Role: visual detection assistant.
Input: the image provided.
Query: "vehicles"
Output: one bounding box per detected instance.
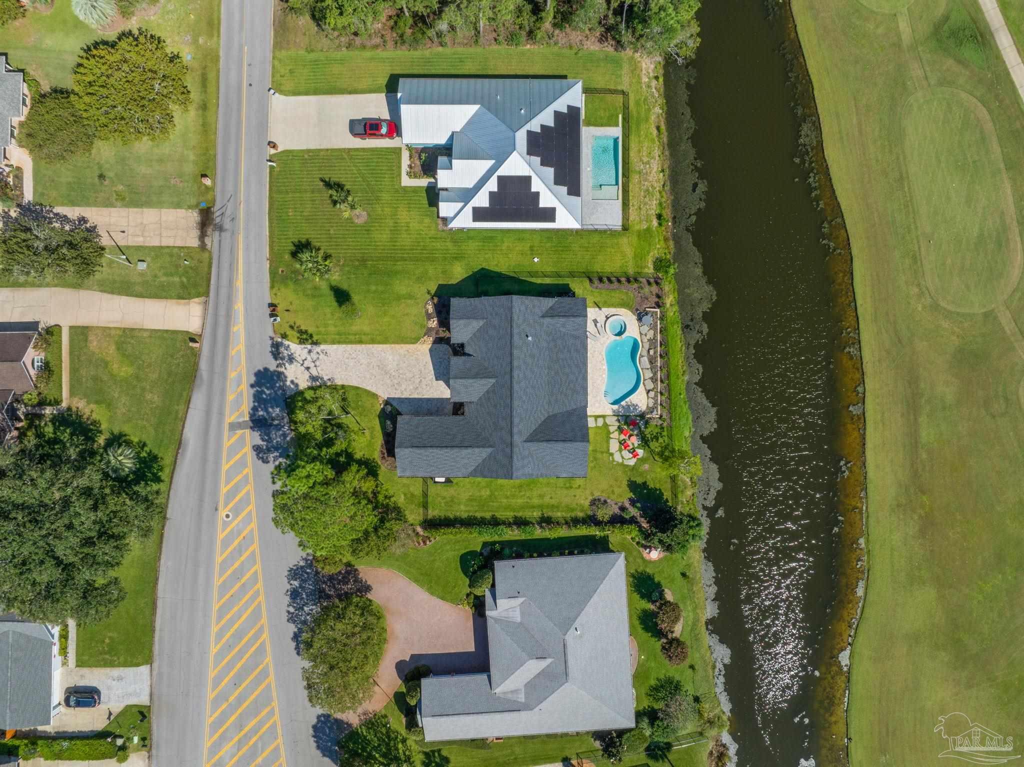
[64,694,101,714]
[351,118,398,140]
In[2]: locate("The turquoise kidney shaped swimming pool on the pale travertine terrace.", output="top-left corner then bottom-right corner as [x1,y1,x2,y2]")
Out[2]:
[602,334,643,407]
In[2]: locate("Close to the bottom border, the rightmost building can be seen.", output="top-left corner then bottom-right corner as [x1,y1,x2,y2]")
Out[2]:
[421,551,635,750]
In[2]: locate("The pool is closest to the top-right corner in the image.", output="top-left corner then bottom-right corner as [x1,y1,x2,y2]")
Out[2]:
[590,134,621,201]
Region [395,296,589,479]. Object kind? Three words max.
house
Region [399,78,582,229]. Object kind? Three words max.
house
